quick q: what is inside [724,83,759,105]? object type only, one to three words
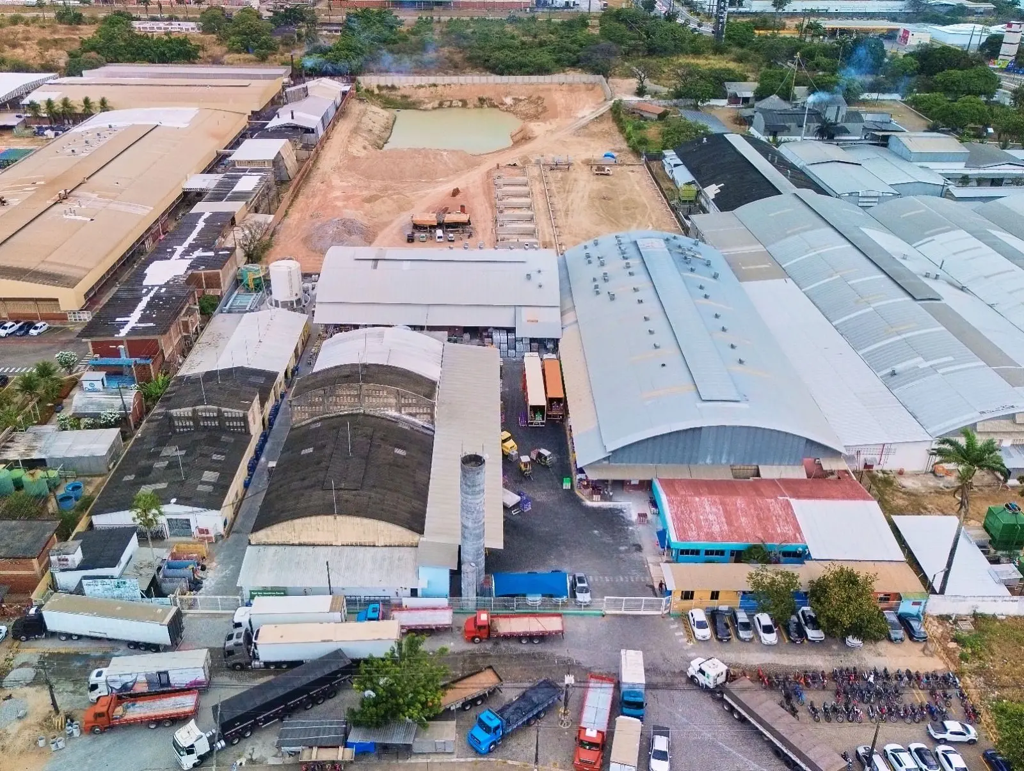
house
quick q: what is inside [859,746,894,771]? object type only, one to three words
car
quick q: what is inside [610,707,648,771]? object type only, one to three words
truck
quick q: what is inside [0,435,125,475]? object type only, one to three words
shed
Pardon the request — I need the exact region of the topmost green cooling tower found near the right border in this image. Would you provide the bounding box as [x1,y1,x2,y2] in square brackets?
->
[978,499,1024,548]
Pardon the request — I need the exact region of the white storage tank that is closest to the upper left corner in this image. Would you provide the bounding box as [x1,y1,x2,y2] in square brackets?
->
[264,259,306,309]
